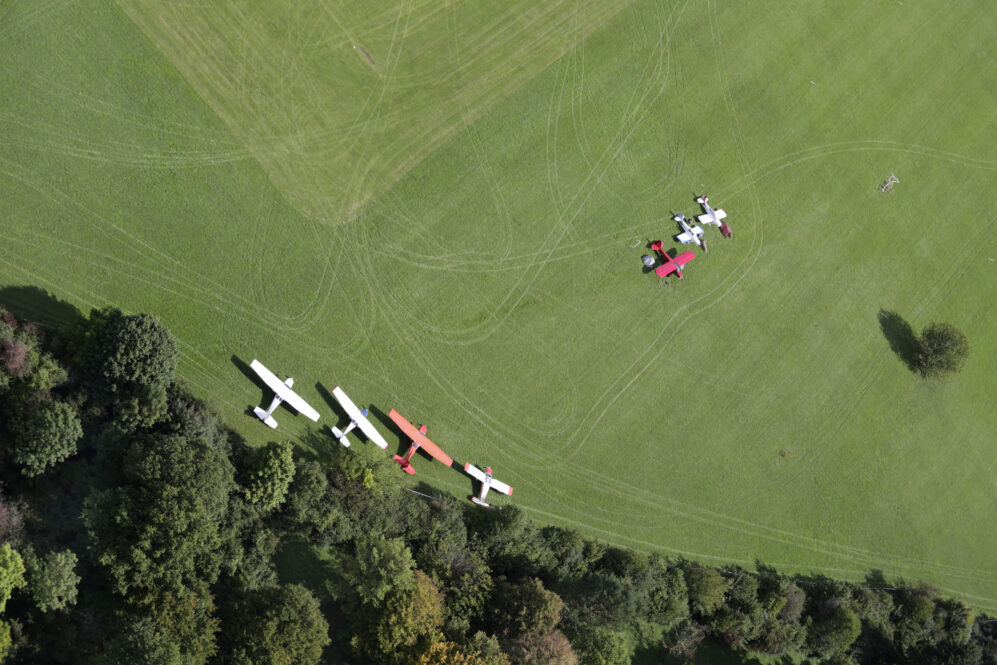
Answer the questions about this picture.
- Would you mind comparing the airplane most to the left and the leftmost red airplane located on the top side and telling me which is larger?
the airplane most to the left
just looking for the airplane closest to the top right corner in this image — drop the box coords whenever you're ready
[697,195,730,241]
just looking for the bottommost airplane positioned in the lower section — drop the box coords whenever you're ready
[464,463,511,509]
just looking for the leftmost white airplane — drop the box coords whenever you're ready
[251,360,321,427]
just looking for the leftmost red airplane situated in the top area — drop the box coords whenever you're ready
[646,241,695,277]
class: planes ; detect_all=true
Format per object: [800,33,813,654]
[675,213,706,255]
[697,195,730,241]
[389,408,455,471]
[251,360,321,427]
[329,387,389,448]
[464,463,511,509]
[646,241,695,277]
